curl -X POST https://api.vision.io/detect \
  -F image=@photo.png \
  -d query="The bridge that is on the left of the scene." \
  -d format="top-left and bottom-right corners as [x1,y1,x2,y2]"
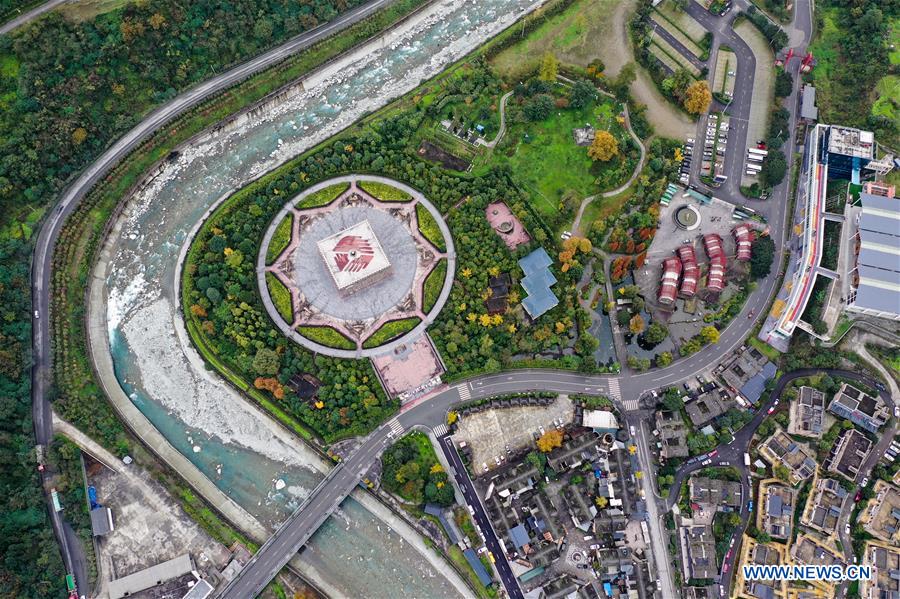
[208,442,384,599]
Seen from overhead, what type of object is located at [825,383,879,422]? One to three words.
house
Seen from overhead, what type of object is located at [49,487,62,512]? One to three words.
vehicle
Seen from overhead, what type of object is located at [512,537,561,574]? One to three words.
house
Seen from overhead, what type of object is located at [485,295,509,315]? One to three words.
building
